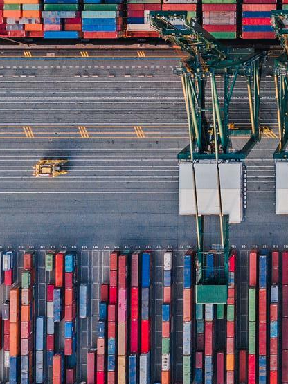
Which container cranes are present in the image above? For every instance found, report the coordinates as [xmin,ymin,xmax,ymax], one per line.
[265,10,288,212]
[149,10,275,306]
